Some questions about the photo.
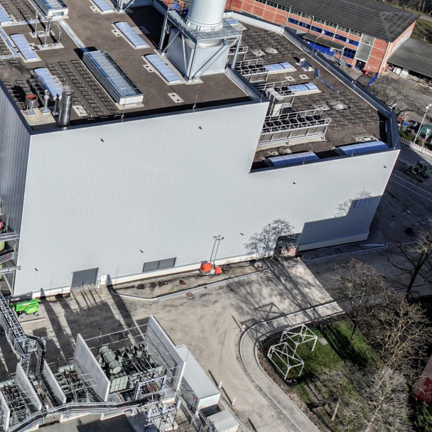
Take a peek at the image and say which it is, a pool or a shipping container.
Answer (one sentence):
Of the two, only a shipping container appears.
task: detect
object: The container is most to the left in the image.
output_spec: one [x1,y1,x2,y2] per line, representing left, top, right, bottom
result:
[174,344,221,411]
